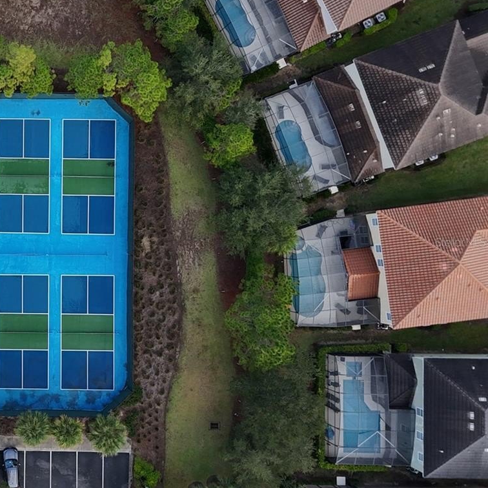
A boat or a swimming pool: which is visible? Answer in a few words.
swimming pool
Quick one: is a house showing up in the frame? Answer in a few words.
Yes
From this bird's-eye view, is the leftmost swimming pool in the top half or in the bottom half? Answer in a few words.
top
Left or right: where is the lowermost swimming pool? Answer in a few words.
right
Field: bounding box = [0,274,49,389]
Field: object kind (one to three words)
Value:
sports court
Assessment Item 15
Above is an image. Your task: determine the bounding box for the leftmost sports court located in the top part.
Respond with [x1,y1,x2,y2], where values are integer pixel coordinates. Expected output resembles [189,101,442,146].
[0,118,50,234]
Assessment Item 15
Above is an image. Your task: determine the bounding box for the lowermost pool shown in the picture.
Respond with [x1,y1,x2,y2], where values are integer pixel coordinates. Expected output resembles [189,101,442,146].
[342,378,382,455]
